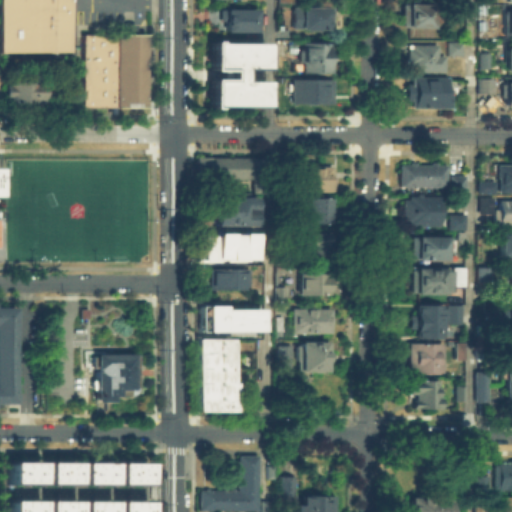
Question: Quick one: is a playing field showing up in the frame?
Yes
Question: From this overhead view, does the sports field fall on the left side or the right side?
left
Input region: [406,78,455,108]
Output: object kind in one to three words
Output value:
house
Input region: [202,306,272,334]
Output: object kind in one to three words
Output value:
building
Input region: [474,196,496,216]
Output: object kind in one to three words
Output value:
building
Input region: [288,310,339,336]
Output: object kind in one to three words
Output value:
house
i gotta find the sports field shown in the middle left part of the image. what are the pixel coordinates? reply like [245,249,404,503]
[8,160,149,262]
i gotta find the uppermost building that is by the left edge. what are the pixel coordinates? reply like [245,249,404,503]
[0,0,75,54]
